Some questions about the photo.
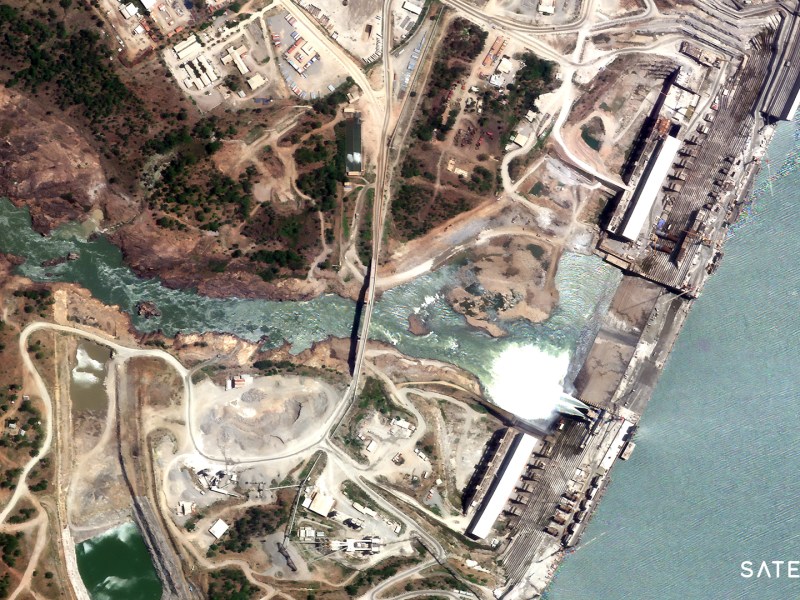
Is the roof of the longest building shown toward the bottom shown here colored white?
Yes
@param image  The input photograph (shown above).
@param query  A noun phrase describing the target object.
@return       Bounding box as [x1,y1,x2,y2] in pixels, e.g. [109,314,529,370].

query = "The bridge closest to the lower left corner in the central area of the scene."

[349,249,379,387]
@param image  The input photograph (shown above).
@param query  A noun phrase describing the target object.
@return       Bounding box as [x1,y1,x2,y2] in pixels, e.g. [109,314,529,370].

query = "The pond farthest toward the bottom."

[77,520,163,600]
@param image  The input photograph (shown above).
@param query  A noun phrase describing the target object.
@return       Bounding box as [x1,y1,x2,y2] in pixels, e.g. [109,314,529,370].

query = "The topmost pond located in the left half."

[70,339,116,412]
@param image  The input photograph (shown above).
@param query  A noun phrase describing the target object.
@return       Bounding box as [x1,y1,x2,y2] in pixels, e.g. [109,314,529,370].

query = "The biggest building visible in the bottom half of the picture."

[463,424,537,539]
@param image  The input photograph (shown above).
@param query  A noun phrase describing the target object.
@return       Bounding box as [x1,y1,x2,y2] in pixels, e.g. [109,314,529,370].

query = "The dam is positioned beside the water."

[491,0,800,600]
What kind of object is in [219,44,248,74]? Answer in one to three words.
building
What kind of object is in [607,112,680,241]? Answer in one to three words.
building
